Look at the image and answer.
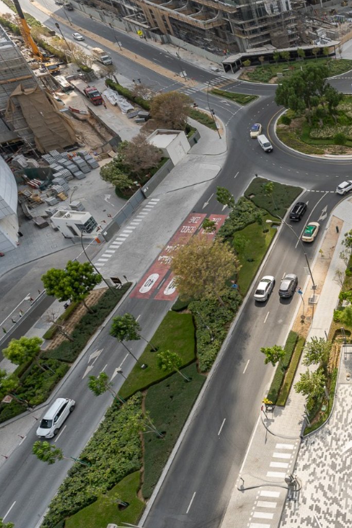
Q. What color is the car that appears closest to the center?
white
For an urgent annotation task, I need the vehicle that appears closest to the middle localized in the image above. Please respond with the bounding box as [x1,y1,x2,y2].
[253,274,275,301]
